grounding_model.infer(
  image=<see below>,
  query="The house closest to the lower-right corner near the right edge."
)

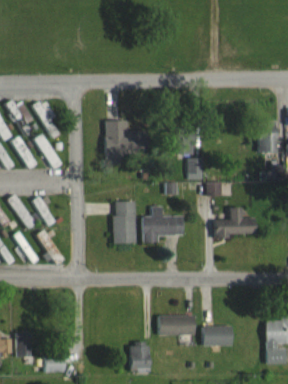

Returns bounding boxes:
[266,320,288,364]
